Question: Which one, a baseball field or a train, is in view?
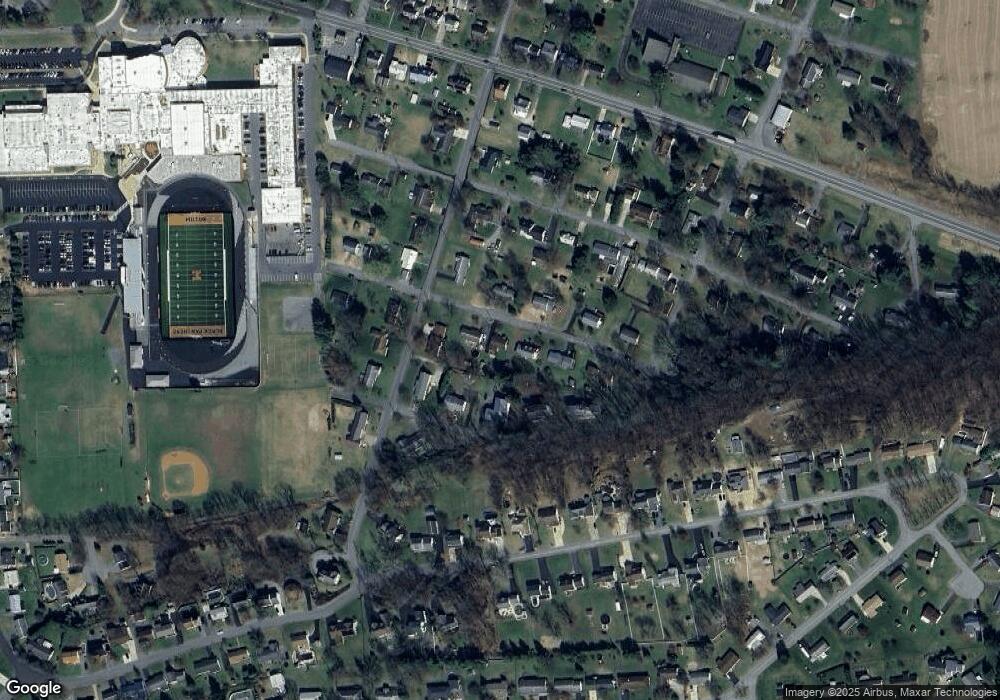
baseball field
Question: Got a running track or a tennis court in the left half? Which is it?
running track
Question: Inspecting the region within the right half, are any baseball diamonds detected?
No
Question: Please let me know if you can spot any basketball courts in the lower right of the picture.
No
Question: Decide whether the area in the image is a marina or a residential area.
residential area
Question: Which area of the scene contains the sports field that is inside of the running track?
left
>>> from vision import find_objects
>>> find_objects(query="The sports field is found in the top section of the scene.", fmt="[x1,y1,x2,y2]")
[159,212,235,342]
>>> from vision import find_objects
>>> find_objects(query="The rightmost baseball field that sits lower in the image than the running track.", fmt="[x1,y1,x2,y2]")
[160,450,208,500]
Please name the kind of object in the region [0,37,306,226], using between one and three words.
building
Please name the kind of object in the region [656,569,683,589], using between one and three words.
house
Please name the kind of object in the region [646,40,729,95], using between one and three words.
building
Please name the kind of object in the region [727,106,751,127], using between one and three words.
house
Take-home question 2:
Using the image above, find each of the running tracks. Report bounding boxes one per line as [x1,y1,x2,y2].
[136,176,259,387]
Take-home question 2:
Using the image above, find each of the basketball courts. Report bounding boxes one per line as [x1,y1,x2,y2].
[283,297,312,331]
